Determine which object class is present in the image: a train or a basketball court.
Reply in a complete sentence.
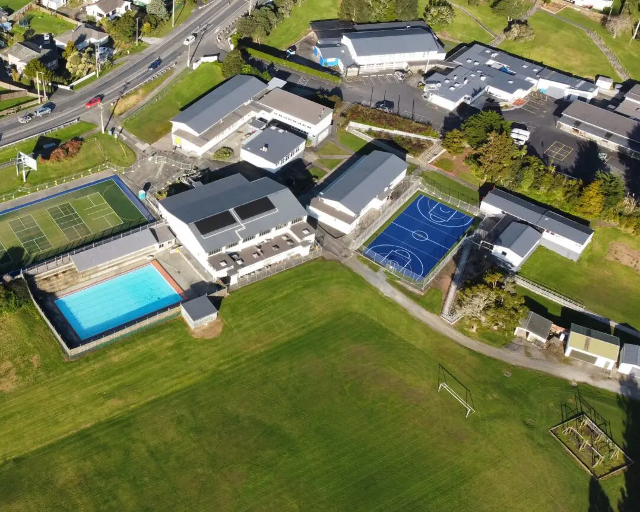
There is a basketball court in the scene.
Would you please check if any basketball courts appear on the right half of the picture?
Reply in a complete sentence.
Yes, a basketball court can be seen on the right half of the picture.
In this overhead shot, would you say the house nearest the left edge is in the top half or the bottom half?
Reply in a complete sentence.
You can find the house nearest the left edge in the top half.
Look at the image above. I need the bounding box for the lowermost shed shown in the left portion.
[181,295,219,331]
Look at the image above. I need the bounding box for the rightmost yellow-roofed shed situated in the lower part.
[561,323,618,372]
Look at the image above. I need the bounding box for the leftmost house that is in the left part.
[0,41,50,79]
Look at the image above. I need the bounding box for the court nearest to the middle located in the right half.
[365,195,479,278]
